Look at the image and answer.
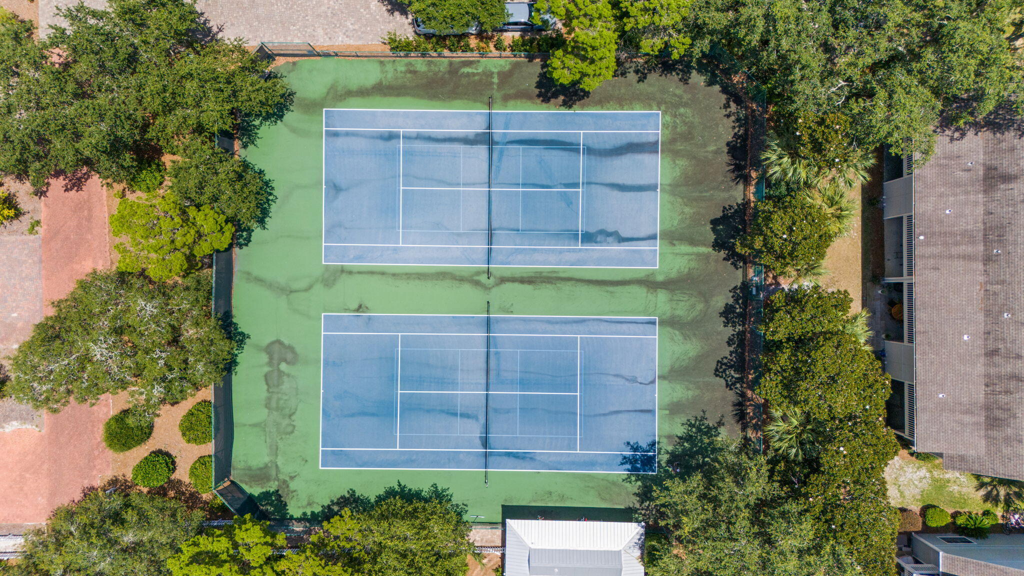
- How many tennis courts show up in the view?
2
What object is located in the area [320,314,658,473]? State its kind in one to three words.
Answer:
tennis court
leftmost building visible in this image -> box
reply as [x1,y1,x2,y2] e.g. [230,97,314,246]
[504,518,646,576]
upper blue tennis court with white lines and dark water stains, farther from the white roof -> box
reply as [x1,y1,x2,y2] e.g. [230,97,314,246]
[322,108,661,268]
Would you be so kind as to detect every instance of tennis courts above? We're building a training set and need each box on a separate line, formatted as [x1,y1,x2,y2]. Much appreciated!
[322,108,661,268]
[320,314,658,473]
